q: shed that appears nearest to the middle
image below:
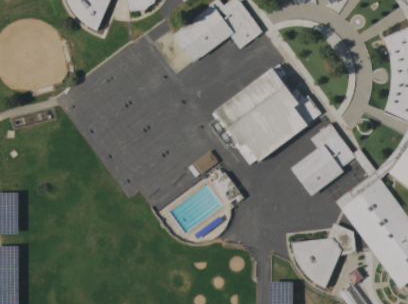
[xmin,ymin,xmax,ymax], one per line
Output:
[188,152,218,177]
